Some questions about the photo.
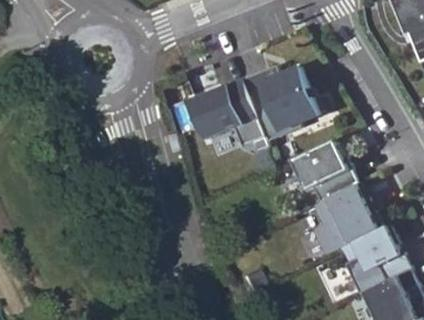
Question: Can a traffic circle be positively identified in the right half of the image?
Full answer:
No, there is no traffic circle in the right half of the image.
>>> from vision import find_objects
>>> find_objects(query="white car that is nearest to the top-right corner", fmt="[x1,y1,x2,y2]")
[373,110,388,132]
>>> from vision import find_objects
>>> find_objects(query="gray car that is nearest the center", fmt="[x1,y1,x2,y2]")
[227,58,242,81]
